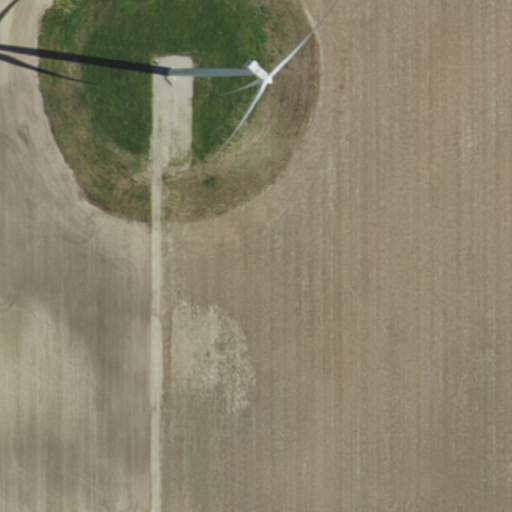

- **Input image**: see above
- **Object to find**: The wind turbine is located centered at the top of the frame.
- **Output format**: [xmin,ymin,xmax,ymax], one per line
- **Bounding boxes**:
[167,0,339,158]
